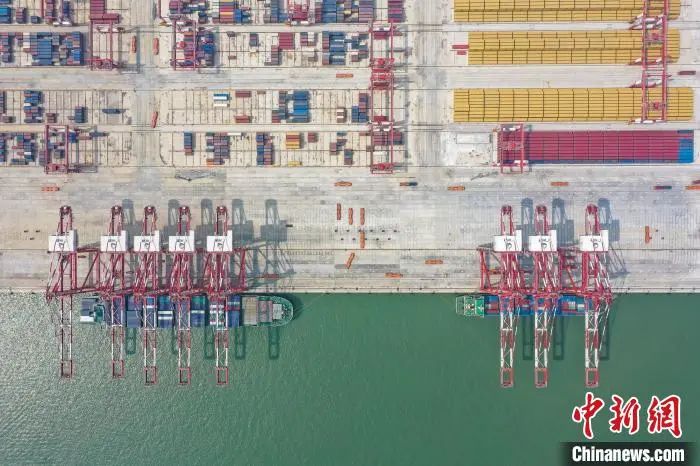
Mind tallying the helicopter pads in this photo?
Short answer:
none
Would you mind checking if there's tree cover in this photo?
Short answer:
No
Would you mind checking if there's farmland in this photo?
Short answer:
No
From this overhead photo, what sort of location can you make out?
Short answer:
port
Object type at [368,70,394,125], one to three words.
container crane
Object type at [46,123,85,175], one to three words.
container crane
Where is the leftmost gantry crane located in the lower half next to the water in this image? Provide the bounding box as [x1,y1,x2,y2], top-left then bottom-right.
[42,203,106,377]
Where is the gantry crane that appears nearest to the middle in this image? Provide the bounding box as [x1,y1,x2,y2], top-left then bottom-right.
[368,123,394,174]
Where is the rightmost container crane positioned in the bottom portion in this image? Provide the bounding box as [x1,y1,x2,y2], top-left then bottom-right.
[556,202,614,387]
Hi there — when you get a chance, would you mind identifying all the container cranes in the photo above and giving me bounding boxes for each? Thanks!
[368,70,394,125]
[90,18,126,74]
[174,17,205,69]
[556,202,614,387]
[368,17,394,71]
[510,202,559,387]
[478,202,523,387]
[491,122,524,174]
[40,0,79,26]
[46,123,85,175]
[206,203,249,384]
[131,203,183,384]
[167,203,215,384]
[96,203,151,377]
[286,0,312,26]
[42,203,106,377]
[368,123,394,174]
[158,0,191,26]
[626,70,667,125]
[626,16,667,68]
